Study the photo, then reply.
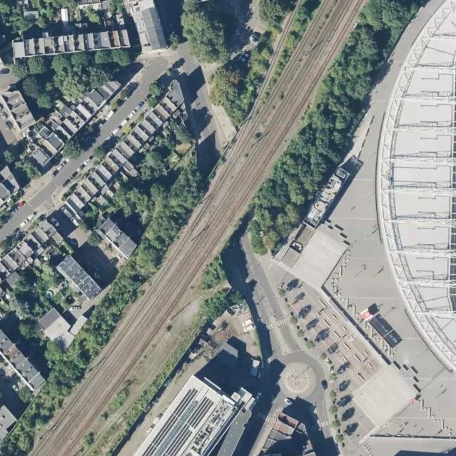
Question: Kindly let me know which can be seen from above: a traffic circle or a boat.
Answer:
traffic circle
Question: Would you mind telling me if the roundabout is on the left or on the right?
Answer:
right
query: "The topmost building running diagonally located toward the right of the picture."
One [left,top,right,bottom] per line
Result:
[303,167,349,225]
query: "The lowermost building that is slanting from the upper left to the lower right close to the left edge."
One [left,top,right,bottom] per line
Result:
[0,338,43,394]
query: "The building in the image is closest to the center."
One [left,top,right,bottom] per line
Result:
[280,226,314,268]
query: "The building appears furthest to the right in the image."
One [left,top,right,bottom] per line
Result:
[369,316,401,348]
